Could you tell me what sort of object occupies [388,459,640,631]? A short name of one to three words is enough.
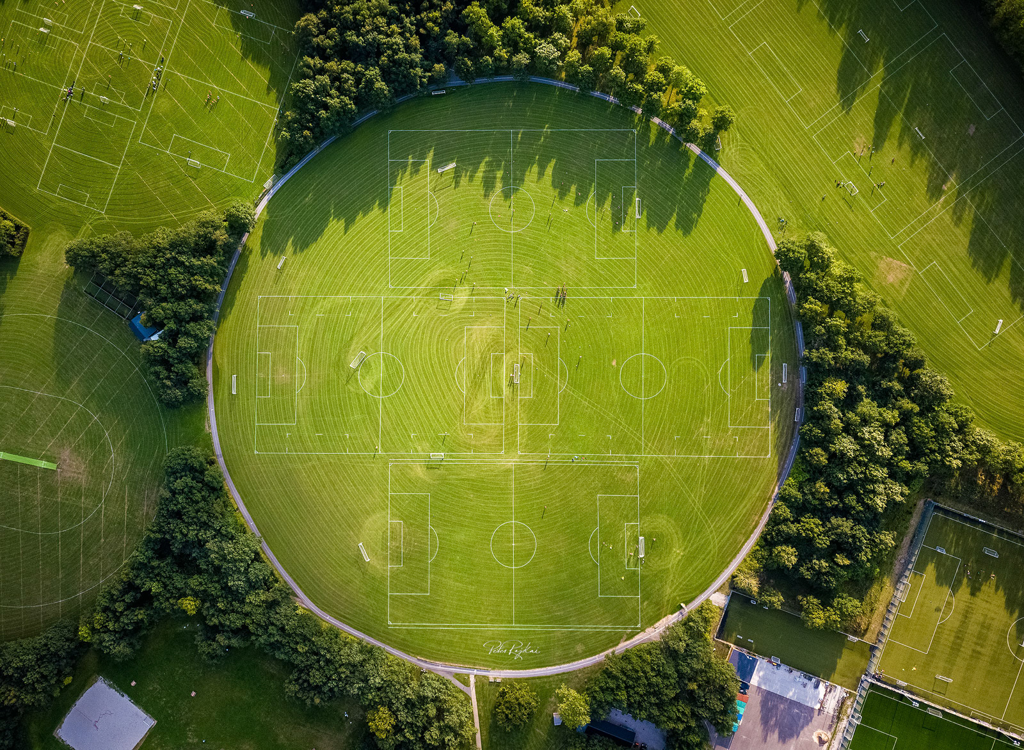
soccer field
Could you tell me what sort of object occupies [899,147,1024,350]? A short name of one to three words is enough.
soccer field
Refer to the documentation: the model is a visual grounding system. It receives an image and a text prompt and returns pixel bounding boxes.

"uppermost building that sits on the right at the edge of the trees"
[723,646,759,683]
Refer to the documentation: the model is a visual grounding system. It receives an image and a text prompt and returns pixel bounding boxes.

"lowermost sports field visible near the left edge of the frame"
[0,257,173,639]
